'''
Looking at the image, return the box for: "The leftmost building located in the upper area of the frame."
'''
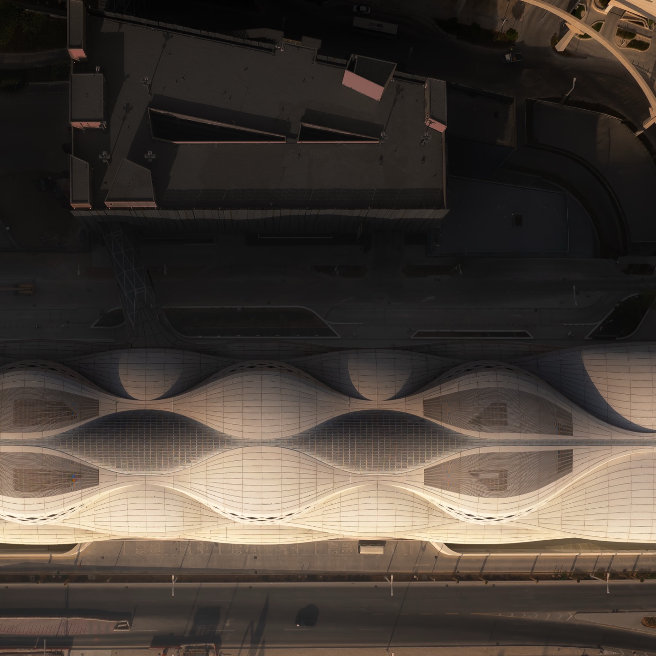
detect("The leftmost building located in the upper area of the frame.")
[67,0,449,234]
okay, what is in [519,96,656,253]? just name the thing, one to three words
building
